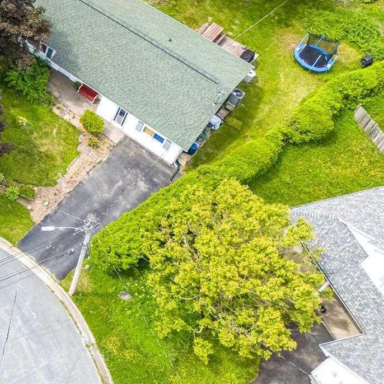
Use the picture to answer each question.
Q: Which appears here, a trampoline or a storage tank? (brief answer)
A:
trampoline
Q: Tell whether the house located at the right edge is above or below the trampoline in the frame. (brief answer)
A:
below it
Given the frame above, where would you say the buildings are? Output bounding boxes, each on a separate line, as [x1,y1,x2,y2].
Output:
[1,0,255,169]
[288,189,384,384]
